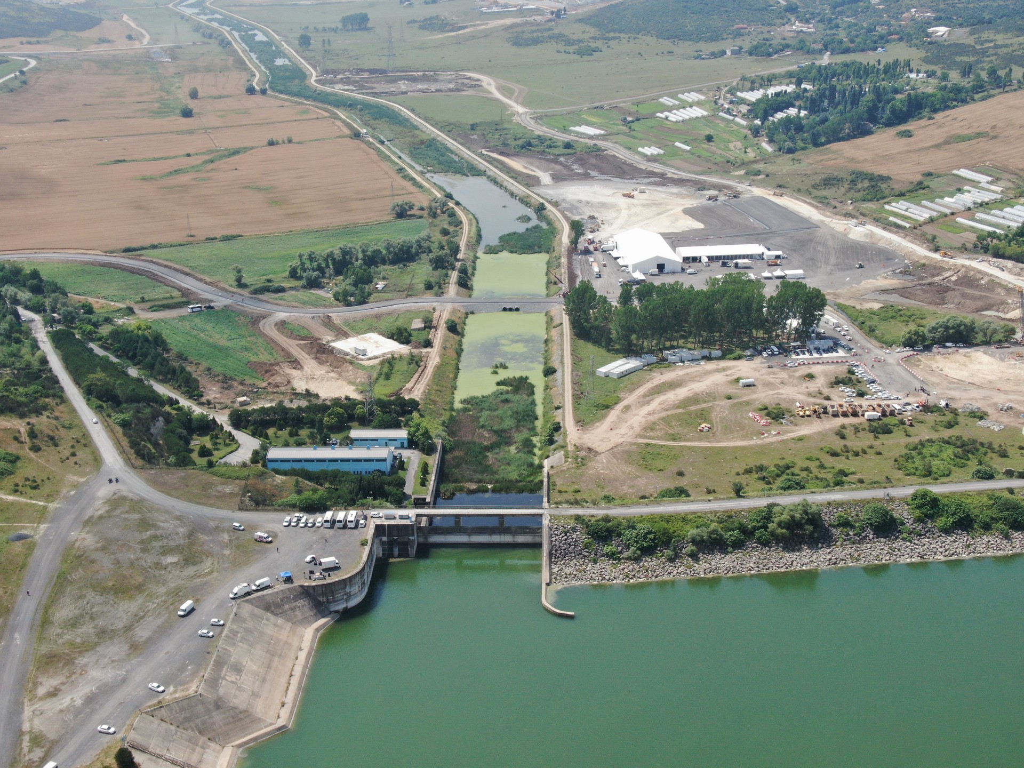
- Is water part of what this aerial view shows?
Yes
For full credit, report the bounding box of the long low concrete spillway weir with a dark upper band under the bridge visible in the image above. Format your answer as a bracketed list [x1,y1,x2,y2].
[423,520,542,543]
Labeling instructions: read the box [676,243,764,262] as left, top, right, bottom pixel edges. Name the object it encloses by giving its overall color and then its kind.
white tent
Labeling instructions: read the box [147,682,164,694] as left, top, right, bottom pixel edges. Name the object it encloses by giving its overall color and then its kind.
white vehicle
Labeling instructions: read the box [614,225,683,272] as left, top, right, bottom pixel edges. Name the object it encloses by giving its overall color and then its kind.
white tent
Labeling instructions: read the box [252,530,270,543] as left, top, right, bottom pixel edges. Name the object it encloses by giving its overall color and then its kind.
white vehicle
